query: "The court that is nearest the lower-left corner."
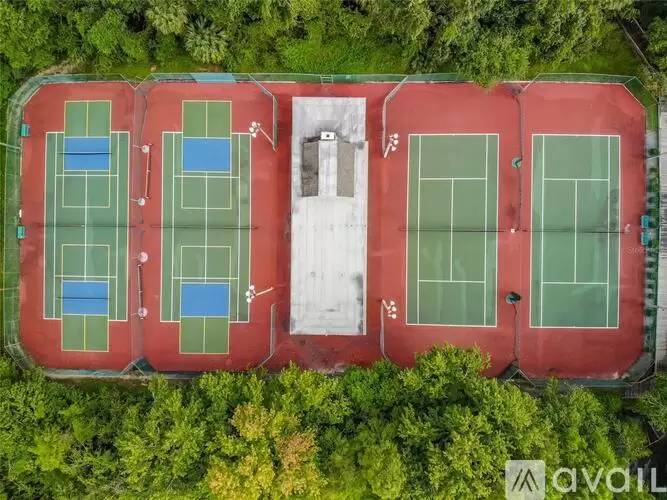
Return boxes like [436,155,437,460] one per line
[62,243,109,350]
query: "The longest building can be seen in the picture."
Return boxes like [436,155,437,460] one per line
[288,131,367,335]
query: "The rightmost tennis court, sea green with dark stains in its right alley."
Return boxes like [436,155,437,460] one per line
[530,135,621,328]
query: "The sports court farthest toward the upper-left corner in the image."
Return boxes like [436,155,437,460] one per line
[63,100,111,207]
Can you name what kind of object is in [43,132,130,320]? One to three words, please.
tennis court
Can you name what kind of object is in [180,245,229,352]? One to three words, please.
sports court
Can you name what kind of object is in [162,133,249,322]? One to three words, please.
tennis court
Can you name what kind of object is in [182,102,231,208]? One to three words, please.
sports court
